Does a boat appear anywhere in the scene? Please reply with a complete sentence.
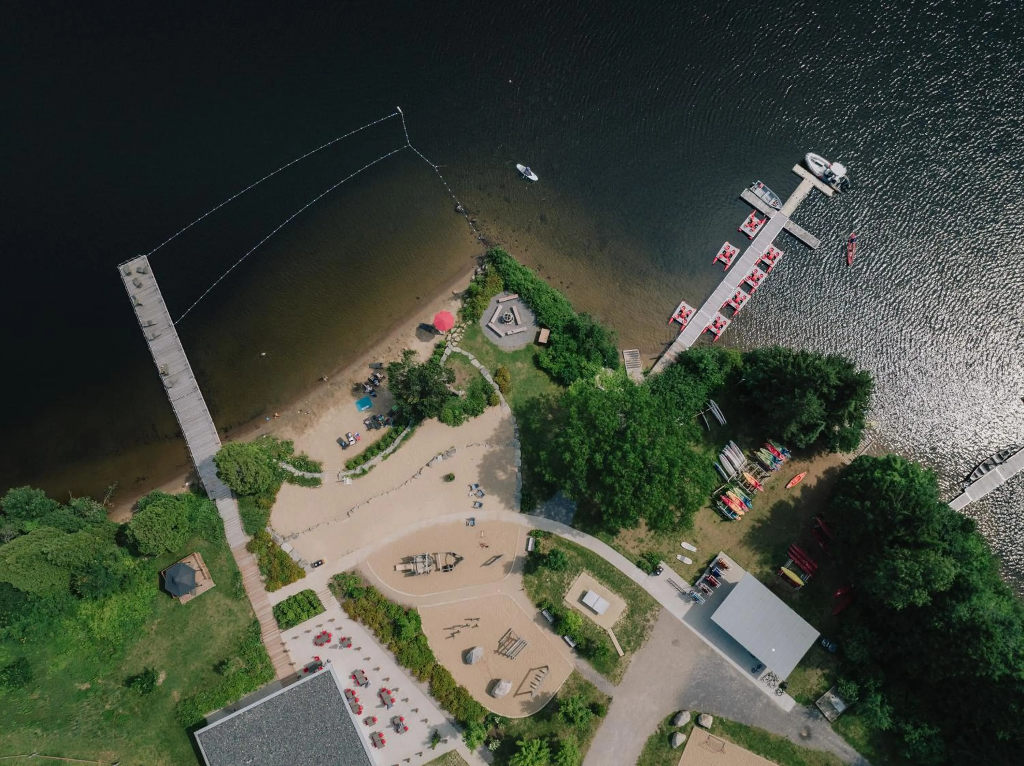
Yes, you can see a boat in this photo.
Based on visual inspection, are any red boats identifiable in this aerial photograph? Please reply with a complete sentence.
Yes, the image includes a red boat.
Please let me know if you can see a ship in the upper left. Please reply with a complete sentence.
No, the scene shows no ship in the upper left.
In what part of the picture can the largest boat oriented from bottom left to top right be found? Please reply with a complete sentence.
The largest boat oriented from bottom left to top right is in the right part of the image.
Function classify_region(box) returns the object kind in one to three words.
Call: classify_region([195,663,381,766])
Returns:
building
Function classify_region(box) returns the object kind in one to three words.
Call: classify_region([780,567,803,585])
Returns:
boat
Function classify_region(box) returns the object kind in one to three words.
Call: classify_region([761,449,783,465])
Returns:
boat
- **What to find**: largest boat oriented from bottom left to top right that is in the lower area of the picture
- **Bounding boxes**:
[965,447,1011,482]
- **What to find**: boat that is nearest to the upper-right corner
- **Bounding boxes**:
[809,152,849,193]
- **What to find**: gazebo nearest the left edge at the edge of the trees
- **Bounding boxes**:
[159,552,216,604]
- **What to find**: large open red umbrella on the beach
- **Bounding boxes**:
[435,312,456,332]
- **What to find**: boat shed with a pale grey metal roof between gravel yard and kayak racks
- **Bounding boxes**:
[708,571,820,681]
